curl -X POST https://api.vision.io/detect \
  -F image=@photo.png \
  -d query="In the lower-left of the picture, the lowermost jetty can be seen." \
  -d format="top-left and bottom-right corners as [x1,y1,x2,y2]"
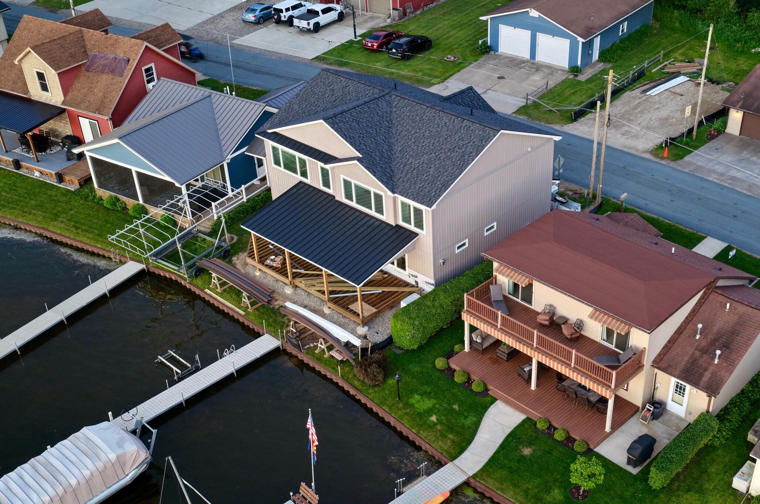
[100,324,283,433]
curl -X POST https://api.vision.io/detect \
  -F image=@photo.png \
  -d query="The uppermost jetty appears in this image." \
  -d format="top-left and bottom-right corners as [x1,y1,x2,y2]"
[0,253,144,362]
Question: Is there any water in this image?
Yes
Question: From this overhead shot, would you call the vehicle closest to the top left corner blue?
Yes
